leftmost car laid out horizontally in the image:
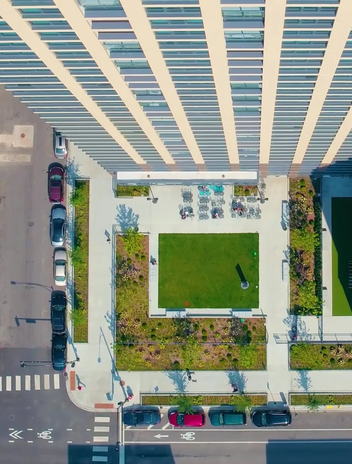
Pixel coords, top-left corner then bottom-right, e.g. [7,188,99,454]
[122,409,161,428]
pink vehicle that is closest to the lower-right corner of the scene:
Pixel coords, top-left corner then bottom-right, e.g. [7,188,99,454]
[169,411,206,429]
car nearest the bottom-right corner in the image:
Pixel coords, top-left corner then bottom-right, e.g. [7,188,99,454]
[251,409,293,429]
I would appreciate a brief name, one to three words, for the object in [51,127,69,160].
car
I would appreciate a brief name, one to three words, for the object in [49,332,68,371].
car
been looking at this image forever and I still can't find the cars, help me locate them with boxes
[49,290,69,334]
[251,409,293,429]
[49,205,68,247]
[169,411,206,429]
[122,409,161,428]
[50,248,69,286]
[209,409,247,429]
[49,332,68,371]
[46,162,66,202]
[51,127,69,160]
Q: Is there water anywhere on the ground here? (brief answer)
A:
No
